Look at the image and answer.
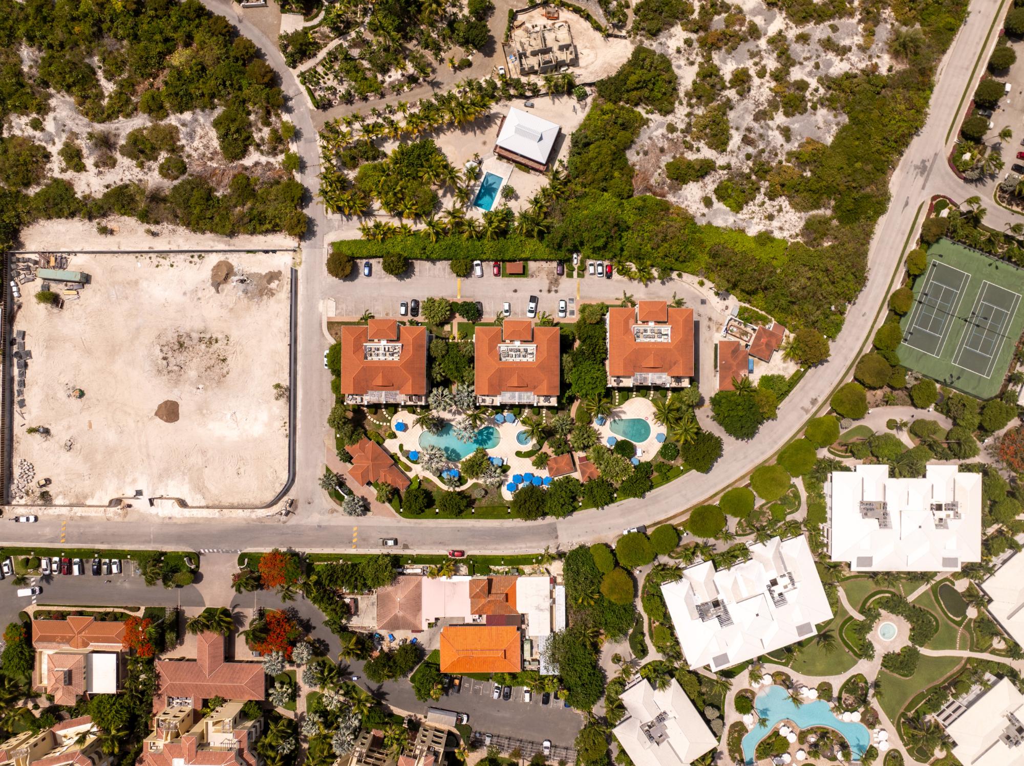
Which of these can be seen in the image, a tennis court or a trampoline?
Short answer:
tennis court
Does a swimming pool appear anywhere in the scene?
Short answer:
Yes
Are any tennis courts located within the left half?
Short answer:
No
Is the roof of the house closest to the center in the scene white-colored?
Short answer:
No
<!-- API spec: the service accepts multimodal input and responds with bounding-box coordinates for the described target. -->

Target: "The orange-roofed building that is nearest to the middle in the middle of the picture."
[475,320,560,406]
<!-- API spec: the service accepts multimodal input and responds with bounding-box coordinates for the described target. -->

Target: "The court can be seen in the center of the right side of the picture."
[902,260,1021,378]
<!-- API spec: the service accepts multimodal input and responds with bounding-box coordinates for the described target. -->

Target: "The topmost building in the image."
[508,19,579,74]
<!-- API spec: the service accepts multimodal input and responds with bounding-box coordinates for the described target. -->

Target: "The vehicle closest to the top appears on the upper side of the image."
[545,4,558,18]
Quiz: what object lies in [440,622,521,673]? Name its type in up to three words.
building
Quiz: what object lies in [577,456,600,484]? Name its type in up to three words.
shed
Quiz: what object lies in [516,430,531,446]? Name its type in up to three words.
swimming pool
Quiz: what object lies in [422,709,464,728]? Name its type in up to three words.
vehicle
